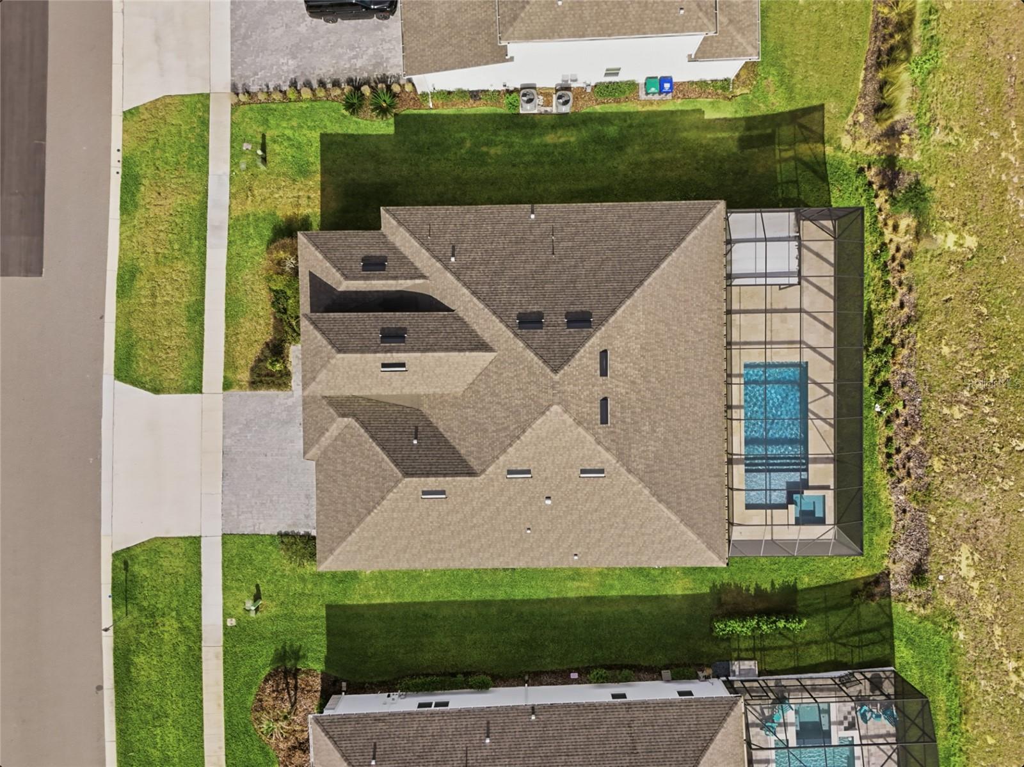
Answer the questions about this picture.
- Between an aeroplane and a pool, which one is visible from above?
pool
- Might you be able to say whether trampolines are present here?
No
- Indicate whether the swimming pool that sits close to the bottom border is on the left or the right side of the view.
right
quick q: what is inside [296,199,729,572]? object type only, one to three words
house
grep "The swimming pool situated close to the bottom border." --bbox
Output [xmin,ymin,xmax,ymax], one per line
[769,697,861,767]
